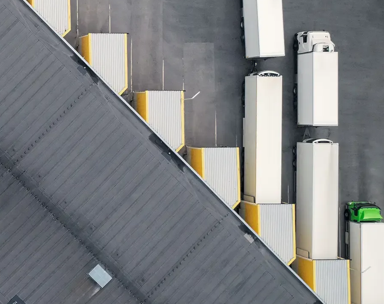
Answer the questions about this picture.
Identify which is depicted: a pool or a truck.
truck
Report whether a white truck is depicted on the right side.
Yes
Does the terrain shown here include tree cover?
No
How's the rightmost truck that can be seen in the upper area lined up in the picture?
up and down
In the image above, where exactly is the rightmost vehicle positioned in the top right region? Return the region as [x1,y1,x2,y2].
[290,31,338,130]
